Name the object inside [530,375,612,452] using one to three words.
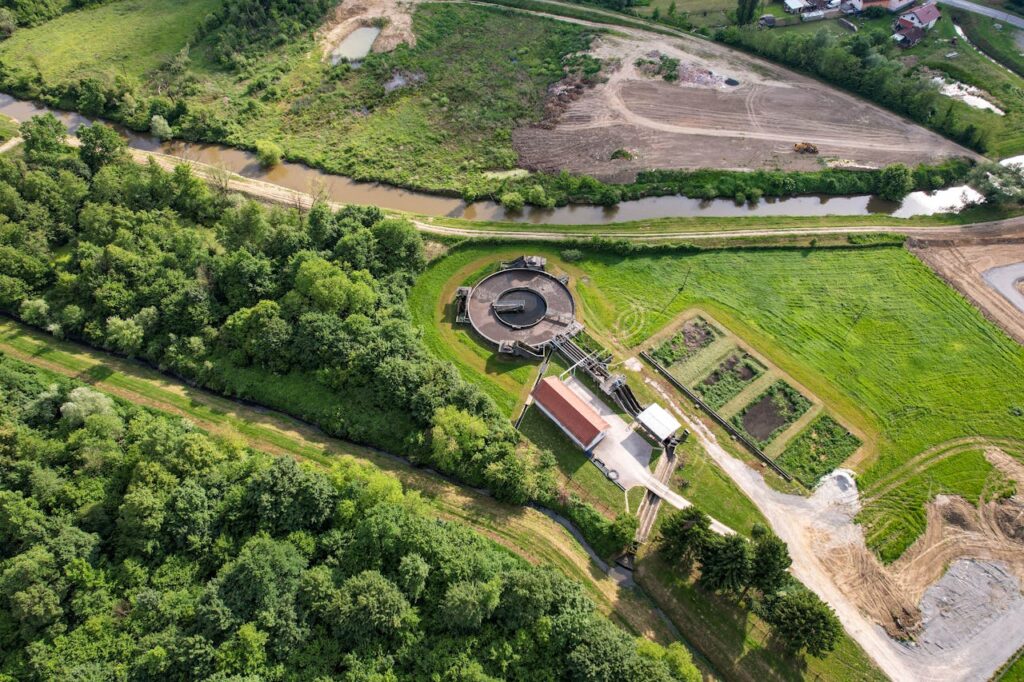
building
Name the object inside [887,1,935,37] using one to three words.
house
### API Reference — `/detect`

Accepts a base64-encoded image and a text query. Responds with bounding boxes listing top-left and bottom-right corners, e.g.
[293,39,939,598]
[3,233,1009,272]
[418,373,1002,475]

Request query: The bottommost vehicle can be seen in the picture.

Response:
[792,141,819,153]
